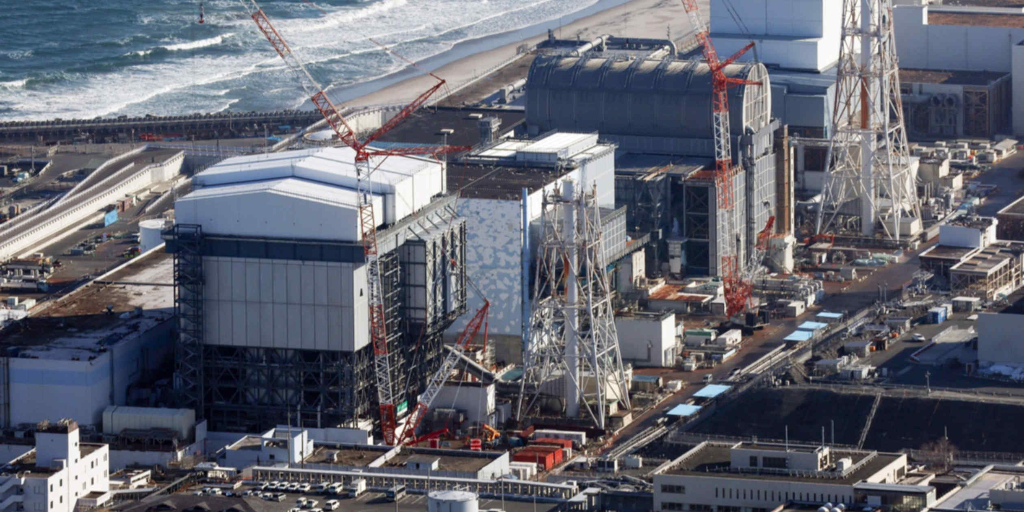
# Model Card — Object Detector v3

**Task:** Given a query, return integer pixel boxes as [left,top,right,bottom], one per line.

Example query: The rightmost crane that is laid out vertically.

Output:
[677,0,791,328]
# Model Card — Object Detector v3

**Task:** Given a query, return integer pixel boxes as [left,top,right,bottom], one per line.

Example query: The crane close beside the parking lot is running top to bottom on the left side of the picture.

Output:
[234,0,491,446]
